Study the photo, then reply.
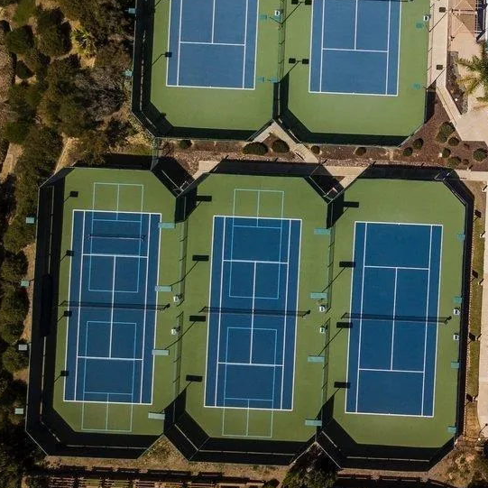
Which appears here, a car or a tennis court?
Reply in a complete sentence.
Looking from above, you can make out a tennis court.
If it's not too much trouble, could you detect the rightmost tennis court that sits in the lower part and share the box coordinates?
[321,178,465,459]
